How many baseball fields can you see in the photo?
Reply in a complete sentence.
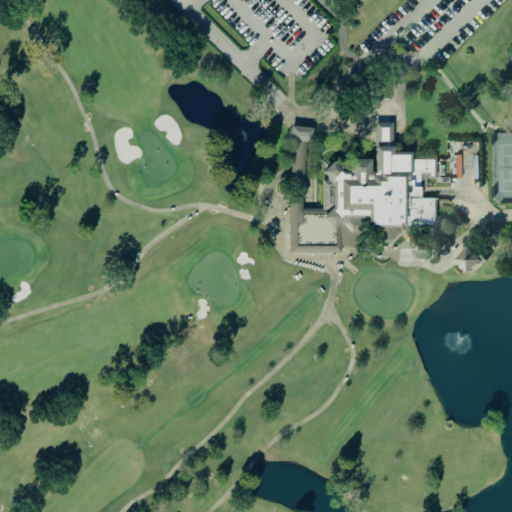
The count of baseball fields is 0.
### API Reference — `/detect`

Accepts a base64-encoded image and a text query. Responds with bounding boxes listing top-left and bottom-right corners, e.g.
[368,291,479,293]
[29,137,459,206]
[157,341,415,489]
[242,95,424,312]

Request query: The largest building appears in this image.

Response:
[291,146,438,252]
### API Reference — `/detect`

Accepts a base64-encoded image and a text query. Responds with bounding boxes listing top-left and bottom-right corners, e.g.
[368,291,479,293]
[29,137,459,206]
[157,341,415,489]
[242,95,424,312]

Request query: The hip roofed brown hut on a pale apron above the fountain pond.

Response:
[456,248,484,272]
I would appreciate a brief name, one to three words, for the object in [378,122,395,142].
building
